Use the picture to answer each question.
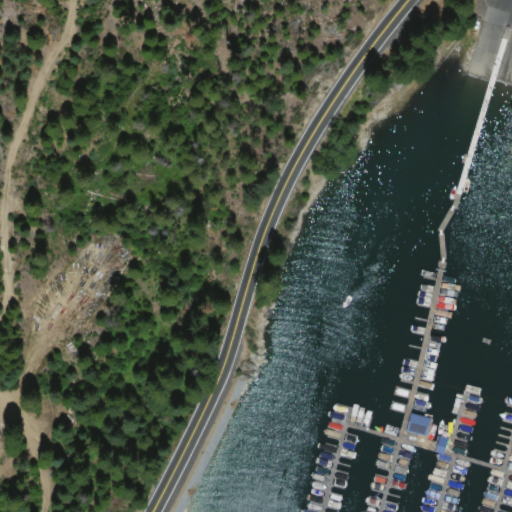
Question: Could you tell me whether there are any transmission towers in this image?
No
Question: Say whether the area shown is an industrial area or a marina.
marina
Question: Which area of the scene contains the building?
bottom right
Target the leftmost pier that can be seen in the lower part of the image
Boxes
[310,406,355,512]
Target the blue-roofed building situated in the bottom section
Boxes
[407,413,433,436]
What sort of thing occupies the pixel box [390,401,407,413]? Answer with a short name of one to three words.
boat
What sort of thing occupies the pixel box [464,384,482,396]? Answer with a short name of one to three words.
boat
